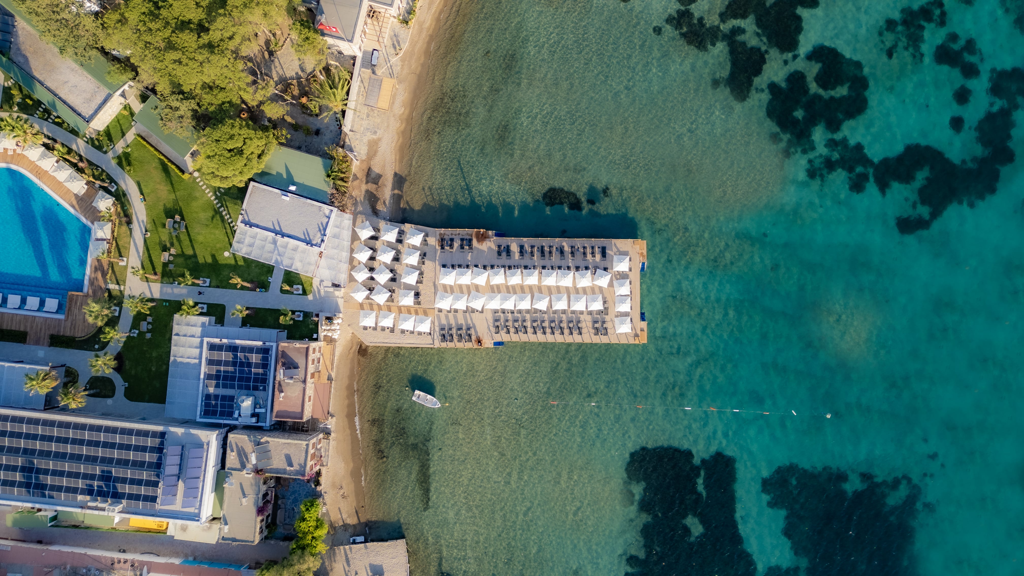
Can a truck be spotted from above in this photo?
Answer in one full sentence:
No, there's no truck here.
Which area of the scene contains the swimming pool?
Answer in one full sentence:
You can find the swimming pool in the left area of the picture.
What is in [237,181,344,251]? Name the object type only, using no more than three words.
building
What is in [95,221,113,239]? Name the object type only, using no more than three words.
umbrella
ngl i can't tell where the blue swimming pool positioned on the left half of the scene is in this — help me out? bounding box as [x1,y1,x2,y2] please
[0,163,94,320]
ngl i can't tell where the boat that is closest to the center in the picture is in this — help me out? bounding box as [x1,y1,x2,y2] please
[412,390,441,407]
